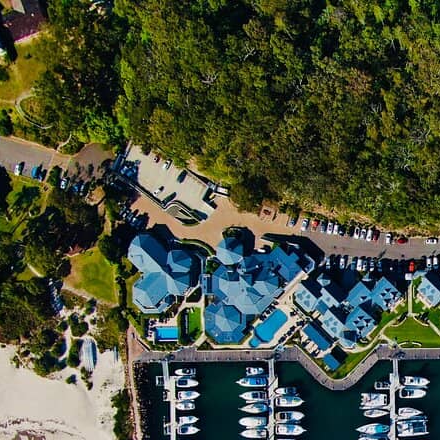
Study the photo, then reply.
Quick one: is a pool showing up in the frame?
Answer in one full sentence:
Yes, a pool is visible in the scene.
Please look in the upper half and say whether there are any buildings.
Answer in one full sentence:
Yes, there is a building in the upper half.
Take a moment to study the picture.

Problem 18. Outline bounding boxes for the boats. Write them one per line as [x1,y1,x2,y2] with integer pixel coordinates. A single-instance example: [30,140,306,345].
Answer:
[174,368,197,375]
[238,403,269,413]
[360,393,387,406]
[274,388,300,396]
[238,418,268,427]
[275,424,307,435]
[375,381,390,389]
[355,423,390,434]
[402,376,431,386]
[238,391,269,400]
[179,416,198,424]
[235,377,268,387]
[398,407,423,417]
[276,396,305,407]
[177,426,201,434]
[364,409,389,418]
[397,421,428,436]
[275,412,304,423]
[239,429,268,438]
[177,379,198,388]
[175,403,196,410]
[399,389,427,398]
[177,391,200,399]
[246,367,262,375]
